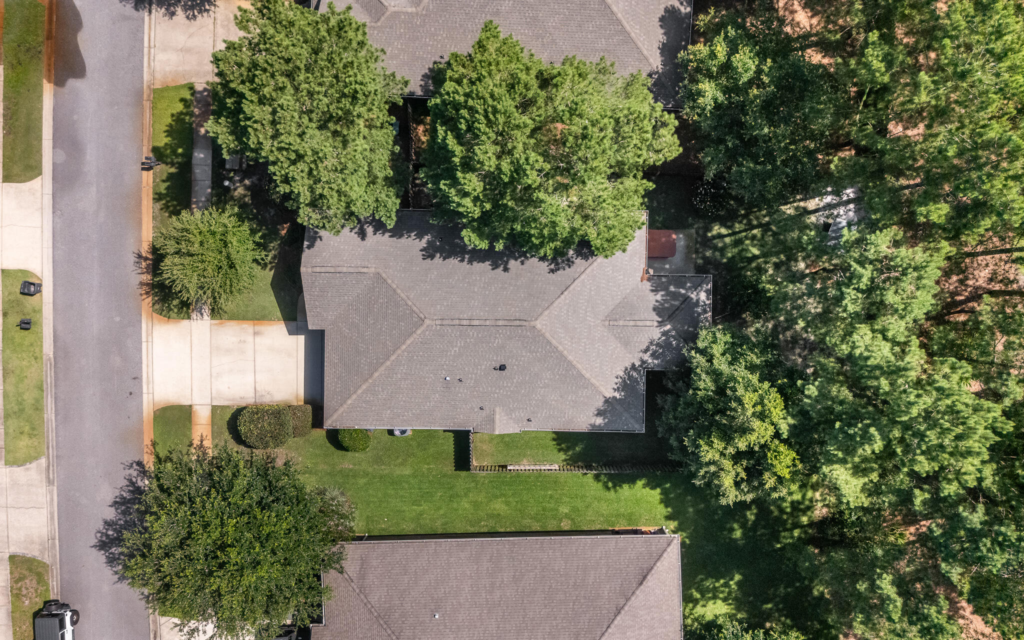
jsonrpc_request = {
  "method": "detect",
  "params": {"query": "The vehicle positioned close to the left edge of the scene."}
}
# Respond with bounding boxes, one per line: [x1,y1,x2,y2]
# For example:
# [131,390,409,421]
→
[38,603,78,640]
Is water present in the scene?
No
